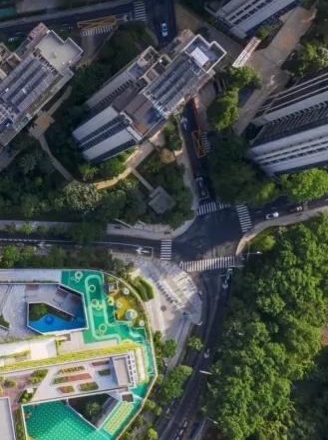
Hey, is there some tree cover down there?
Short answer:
Yes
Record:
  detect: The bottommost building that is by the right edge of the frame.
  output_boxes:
[251,63,328,173]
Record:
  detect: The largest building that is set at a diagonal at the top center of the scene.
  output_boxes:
[67,30,227,165]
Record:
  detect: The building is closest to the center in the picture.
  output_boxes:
[145,186,175,214]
